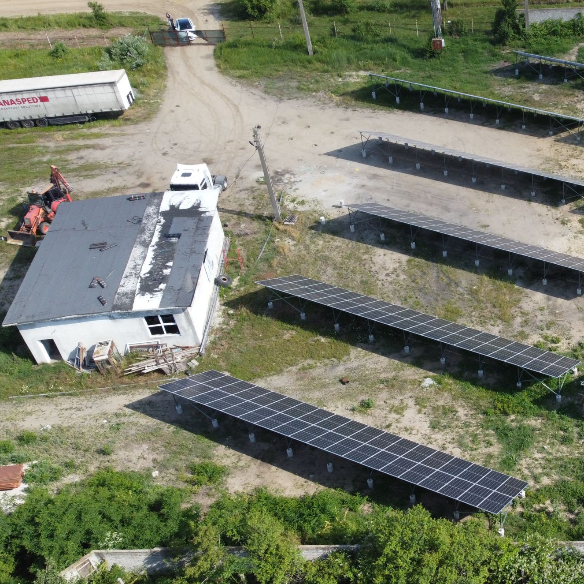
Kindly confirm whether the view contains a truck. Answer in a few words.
Yes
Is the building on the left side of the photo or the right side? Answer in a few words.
left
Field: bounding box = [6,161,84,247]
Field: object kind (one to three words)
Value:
work vehicle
